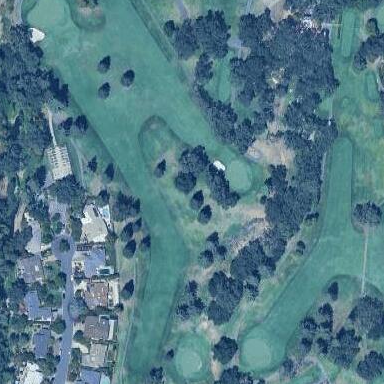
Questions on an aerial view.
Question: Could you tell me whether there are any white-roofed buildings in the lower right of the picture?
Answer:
No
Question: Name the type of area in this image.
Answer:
golf course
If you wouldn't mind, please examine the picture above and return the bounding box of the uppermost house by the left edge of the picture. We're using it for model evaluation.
[18,256,41,281]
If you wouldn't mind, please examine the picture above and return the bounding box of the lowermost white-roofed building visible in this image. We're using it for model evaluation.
[17,361,41,384]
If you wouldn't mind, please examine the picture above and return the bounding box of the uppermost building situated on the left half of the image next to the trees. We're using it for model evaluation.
[82,204,107,240]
